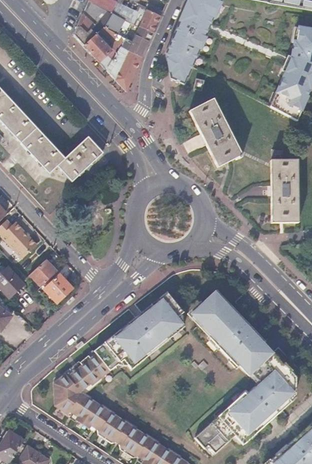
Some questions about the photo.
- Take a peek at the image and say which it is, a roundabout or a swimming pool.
roundabout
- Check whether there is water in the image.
No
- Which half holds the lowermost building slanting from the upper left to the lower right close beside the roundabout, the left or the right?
right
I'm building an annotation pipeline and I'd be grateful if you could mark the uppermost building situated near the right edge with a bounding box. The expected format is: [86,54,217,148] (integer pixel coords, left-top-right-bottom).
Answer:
[270,24,312,120]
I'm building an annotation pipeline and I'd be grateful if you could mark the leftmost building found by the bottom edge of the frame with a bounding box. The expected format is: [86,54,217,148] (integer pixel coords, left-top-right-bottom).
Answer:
[0,430,24,464]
